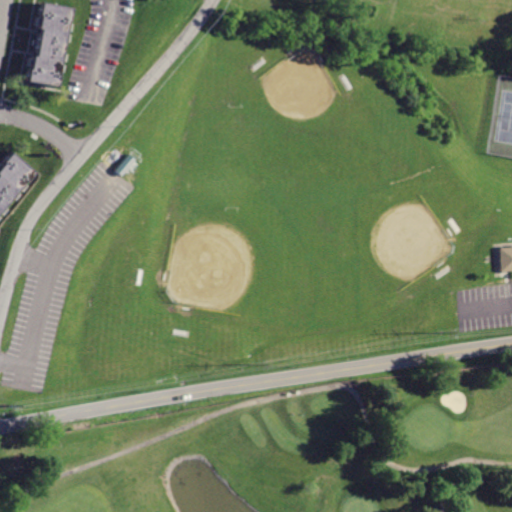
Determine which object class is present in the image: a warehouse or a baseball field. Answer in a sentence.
Looking from above, you can make out a baseball field.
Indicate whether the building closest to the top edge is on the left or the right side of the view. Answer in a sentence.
The building closest to the top edge appears in the left half of the scene.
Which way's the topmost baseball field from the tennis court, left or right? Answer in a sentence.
You can see the topmost baseball field positioned to the left of the tennis court.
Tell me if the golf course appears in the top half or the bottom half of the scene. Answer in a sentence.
The golf course is in the bottom half of the image.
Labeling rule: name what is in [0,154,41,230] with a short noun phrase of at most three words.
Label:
building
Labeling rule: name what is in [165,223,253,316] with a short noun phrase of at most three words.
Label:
baseball field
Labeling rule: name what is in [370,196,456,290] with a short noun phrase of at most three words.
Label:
baseball field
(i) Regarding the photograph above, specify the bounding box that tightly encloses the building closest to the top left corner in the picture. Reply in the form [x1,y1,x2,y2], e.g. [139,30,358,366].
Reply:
[30,2,76,88]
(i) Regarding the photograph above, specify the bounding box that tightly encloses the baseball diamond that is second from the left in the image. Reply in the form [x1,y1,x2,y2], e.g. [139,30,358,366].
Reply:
[260,50,341,120]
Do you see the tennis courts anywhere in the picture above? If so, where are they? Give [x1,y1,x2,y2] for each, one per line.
[486,76,512,158]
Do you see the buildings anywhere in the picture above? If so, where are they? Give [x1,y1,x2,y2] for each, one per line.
[116,156,138,179]
[501,248,512,272]
[30,2,76,88]
[0,154,41,230]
